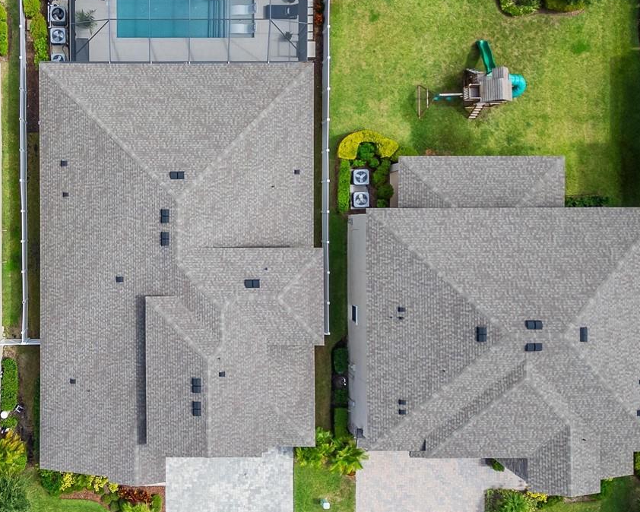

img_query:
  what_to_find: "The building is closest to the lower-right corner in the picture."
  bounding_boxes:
[349,154,640,498]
